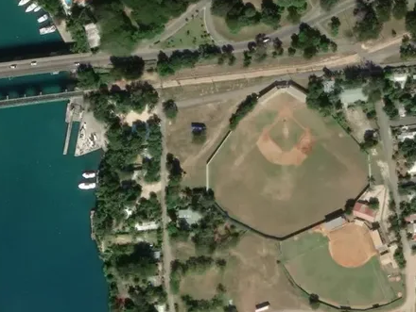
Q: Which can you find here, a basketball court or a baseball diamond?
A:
baseball diamond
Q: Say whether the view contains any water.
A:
Yes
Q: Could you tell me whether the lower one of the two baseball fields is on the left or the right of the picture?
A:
right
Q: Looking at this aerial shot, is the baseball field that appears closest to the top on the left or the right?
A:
right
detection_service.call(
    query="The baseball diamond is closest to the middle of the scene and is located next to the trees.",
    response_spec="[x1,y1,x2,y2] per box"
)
[207,89,370,239]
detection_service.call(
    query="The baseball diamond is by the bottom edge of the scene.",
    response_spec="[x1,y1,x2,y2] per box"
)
[280,223,399,309]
